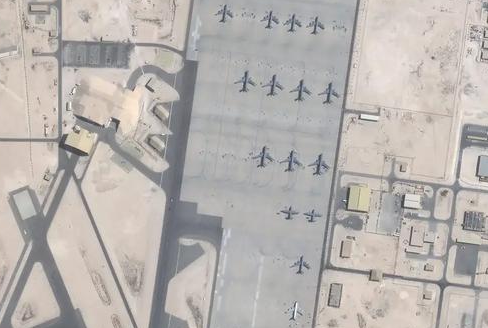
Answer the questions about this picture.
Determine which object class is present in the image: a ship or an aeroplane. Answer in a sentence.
The image shows an aeroplane.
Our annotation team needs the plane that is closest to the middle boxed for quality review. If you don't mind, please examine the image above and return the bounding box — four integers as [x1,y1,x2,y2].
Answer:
[253,146,274,167]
